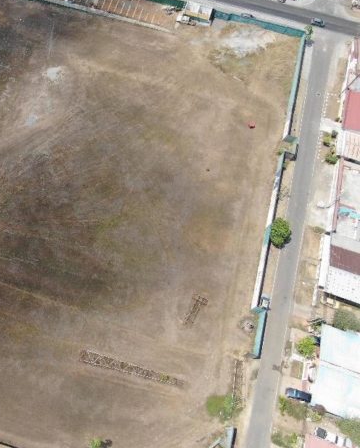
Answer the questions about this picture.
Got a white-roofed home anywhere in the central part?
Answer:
No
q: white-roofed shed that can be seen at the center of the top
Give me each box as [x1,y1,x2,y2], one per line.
[183,2,213,26]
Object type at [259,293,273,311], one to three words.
vehicle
